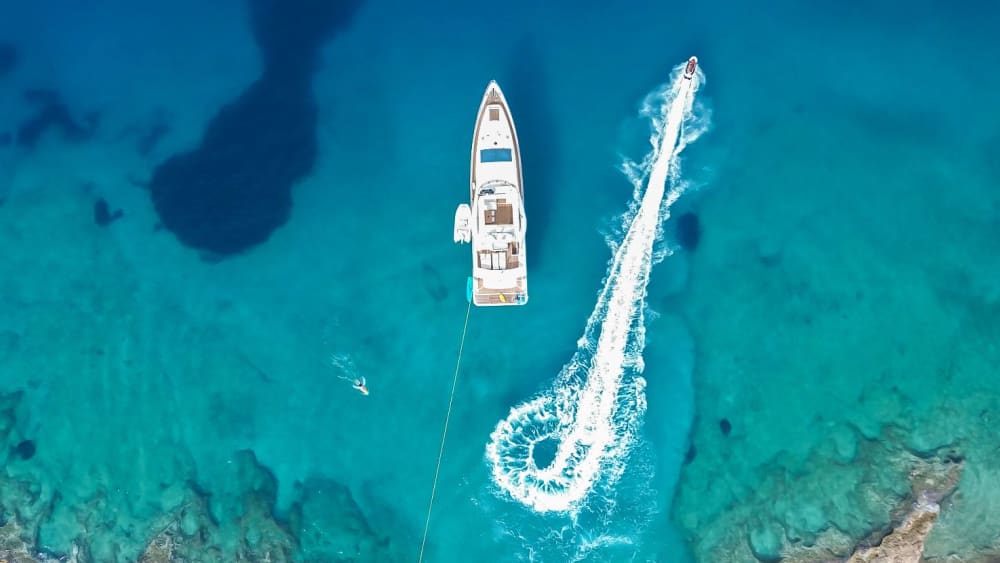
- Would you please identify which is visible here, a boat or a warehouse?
boat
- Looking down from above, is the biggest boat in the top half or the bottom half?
top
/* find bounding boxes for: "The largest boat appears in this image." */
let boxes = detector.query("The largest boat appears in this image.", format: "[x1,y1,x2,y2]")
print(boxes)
[470,78,527,307]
